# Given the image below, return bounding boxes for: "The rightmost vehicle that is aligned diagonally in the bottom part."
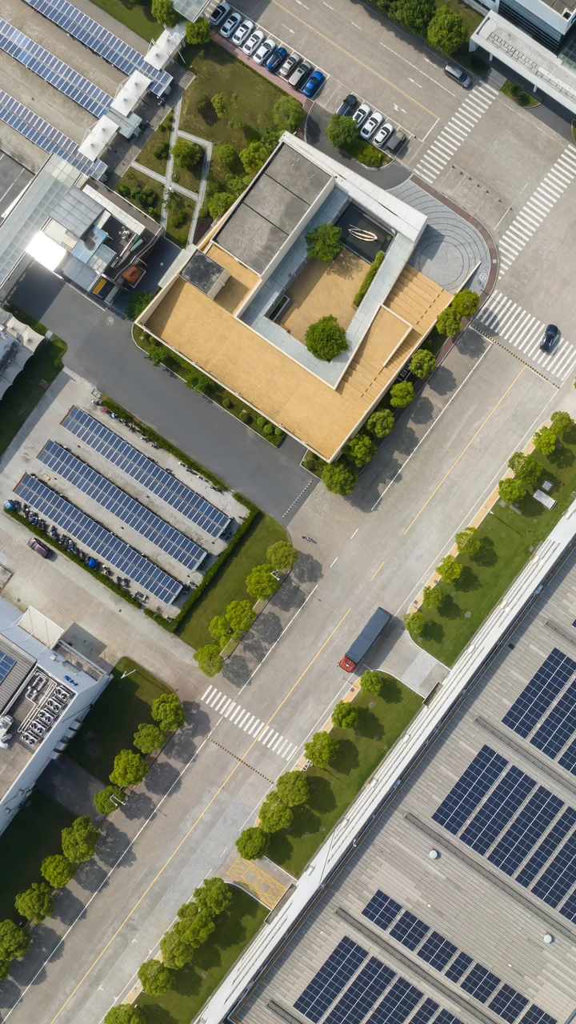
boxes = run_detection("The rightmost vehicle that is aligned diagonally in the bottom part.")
[338,604,394,671]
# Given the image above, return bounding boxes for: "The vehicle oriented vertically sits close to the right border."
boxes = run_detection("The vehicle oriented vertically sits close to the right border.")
[541,323,557,353]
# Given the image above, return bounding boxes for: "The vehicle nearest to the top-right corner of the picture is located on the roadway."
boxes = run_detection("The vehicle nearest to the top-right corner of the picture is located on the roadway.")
[443,64,471,88]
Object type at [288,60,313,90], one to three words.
car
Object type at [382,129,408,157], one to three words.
truck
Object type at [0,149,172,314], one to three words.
building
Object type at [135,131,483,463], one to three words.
building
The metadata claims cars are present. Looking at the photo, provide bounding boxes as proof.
[351,103,373,130]
[26,538,51,560]
[208,0,232,28]
[361,113,384,141]
[252,38,276,66]
[301,70,326,98]
[219,11,243,39]
[288,60,313,90]
[231,19,255,47]
[371,122,395,149]
[264,45,288,74]
[279,53,300,78]
[541,323,557,353]
[334,92,359,120]
[242,29,266,57]
[443,64,471,88]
